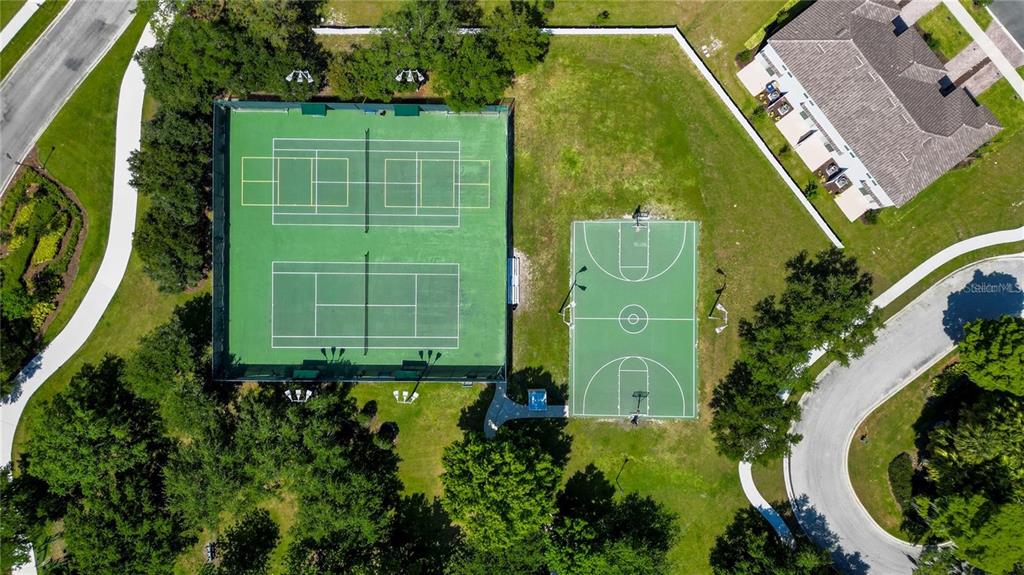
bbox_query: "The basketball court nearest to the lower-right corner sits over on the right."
[569,220,699,418]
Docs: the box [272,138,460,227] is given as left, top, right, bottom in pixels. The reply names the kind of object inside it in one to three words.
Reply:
tennis court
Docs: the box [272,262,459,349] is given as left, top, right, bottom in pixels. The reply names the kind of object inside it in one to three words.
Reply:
tennis court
